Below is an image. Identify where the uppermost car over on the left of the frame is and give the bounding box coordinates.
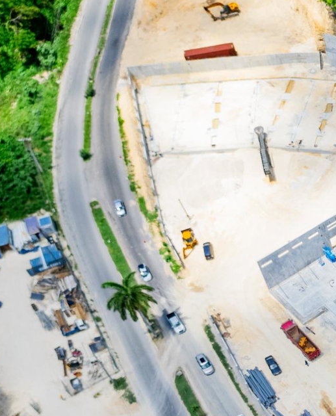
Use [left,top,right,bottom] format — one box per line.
[112,197,125,215]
